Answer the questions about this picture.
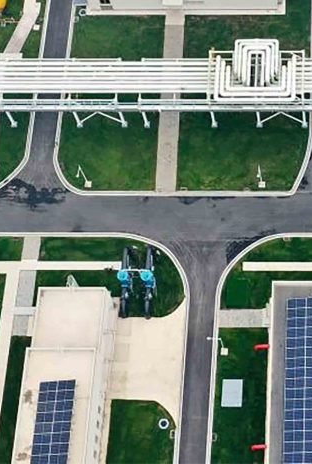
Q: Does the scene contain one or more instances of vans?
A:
No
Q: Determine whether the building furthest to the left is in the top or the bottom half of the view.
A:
bottom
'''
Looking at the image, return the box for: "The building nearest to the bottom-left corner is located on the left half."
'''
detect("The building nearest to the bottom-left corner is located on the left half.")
[11,284,115,464]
